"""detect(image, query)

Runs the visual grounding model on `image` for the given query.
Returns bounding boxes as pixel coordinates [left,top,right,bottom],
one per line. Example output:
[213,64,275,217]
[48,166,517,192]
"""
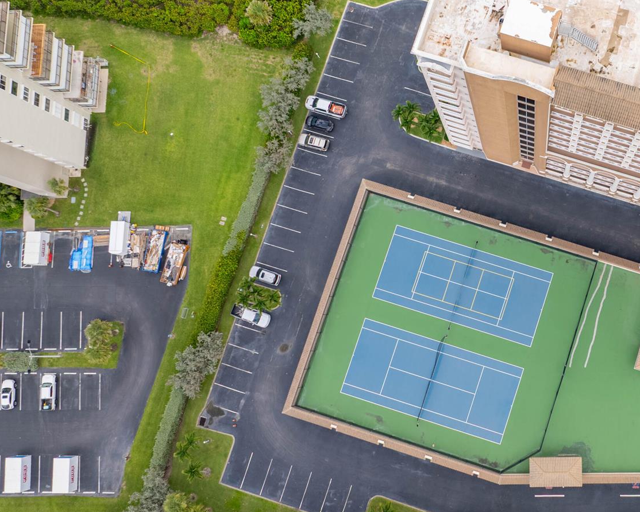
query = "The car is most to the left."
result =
[0,378,18,412]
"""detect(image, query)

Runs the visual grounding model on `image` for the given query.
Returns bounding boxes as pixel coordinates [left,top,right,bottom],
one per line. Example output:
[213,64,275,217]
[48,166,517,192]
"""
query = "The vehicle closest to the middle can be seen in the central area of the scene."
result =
[249,266,283,286]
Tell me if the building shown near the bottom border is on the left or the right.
right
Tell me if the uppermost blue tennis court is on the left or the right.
right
